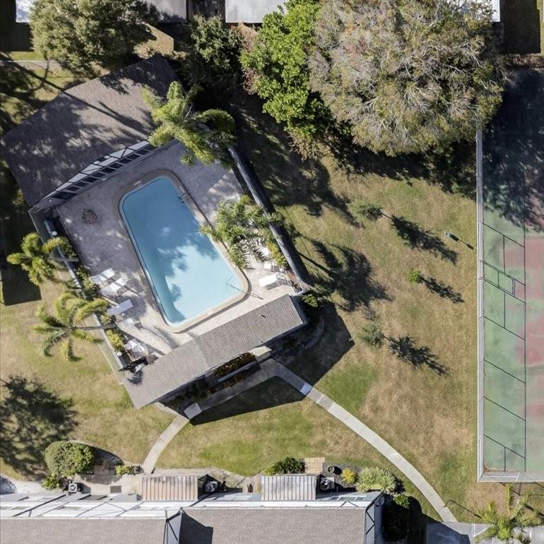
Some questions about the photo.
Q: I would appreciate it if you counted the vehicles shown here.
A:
0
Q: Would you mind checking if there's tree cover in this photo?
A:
Yes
